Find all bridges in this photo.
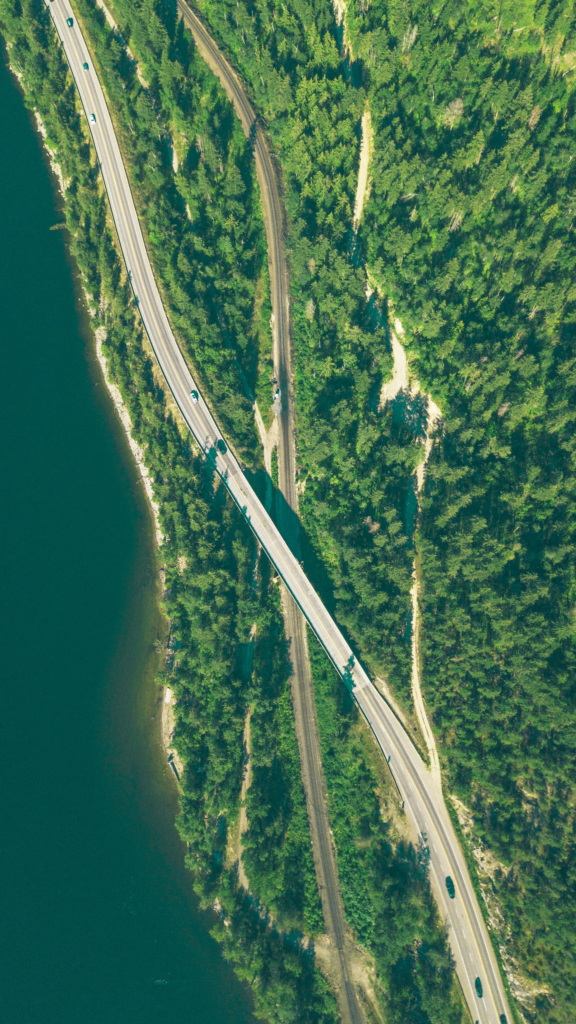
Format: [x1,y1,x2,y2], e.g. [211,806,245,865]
[220,466,370,694]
